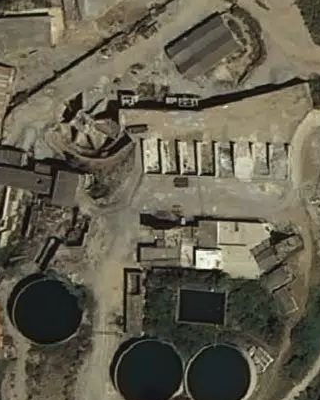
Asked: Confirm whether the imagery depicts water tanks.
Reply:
Yes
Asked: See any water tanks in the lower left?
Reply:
Yes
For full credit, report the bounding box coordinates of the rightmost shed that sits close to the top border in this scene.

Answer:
[168,14,244,77]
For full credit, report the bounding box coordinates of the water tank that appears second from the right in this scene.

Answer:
[114,337,185,400]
